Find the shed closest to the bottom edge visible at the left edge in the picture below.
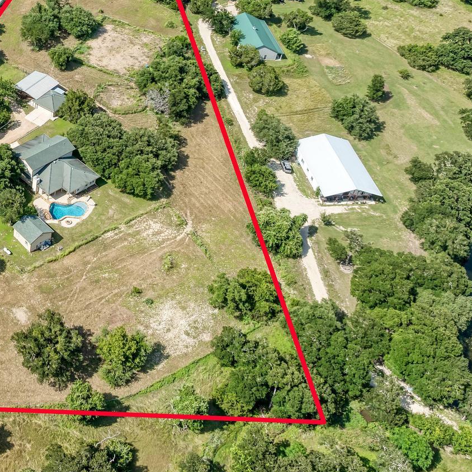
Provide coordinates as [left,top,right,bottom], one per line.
[13,215,54,251]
